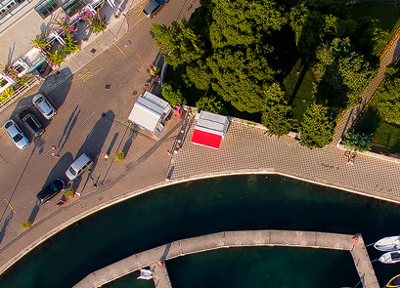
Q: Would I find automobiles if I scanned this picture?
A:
Yes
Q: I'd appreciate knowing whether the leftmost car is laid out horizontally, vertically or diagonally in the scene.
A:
diagonally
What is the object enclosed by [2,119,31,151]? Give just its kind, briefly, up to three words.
car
